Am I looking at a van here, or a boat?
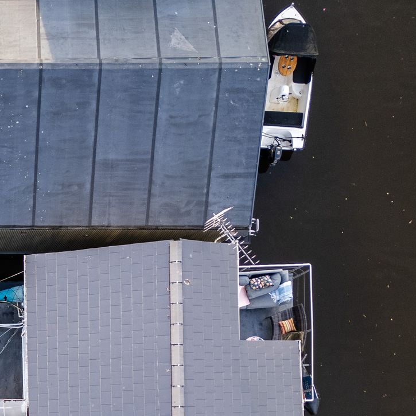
boat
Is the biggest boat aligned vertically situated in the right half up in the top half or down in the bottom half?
top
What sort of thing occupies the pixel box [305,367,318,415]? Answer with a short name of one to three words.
boat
